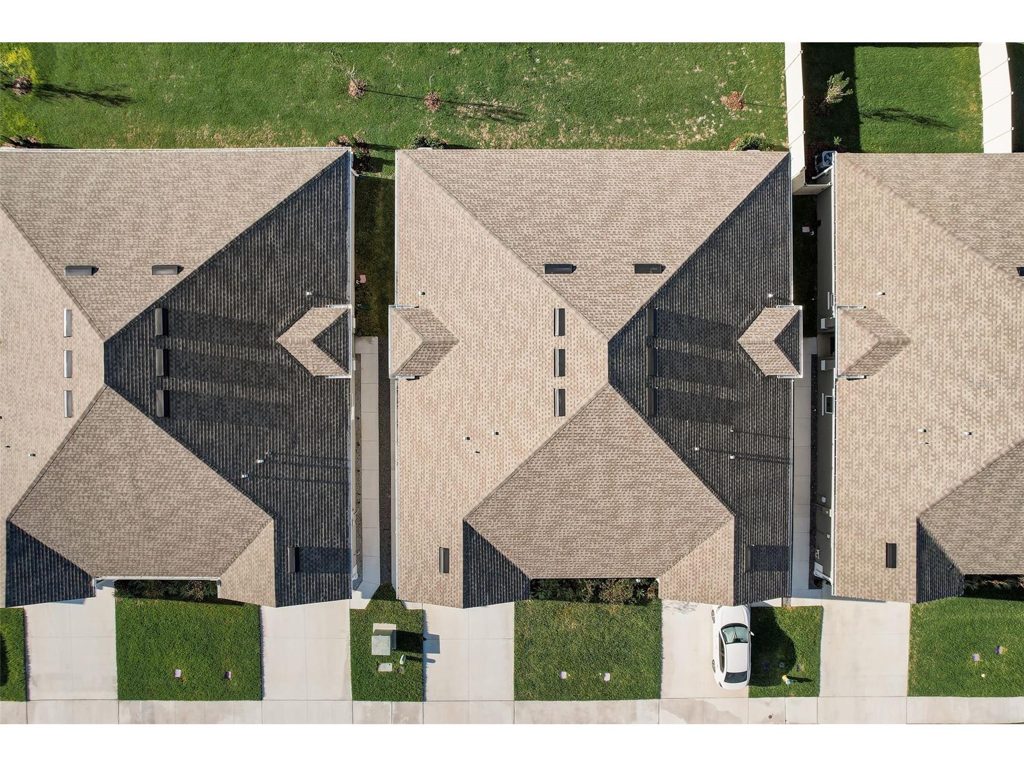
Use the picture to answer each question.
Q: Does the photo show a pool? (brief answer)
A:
No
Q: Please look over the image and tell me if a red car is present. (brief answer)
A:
No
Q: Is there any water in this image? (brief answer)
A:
No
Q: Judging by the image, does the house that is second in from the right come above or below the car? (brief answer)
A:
above it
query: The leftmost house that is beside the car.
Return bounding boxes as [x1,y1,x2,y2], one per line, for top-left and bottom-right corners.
[388,148,806,608]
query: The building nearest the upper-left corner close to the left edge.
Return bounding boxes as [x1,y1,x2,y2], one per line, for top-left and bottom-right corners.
[0,148,361,607]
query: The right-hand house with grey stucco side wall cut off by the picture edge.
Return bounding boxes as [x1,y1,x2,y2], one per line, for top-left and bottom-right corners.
[812,152,1024,603]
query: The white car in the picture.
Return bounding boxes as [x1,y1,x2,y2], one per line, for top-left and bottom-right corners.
[712,605,756,691]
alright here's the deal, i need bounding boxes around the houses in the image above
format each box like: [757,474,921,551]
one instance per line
[388,148,806,608]
[0,148,361,607]
[812,152,1024,603]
